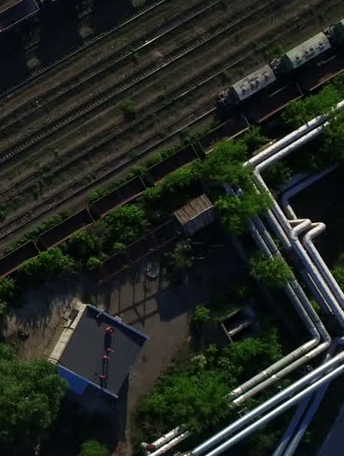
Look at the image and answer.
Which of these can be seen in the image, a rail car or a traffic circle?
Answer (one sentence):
I can see a rail car in this picture.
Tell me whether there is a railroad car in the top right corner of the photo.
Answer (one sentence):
Yes, a railroad car is visible in the top right corner of the photo.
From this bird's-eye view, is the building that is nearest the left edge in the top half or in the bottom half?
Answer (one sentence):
You can find the building that is nearest the left edge in the bottom half.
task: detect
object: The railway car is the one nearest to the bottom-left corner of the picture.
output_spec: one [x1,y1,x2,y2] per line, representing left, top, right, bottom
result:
[0,238,41,278]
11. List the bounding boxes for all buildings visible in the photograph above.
[169,193,218,237]
[48,303,149,398]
